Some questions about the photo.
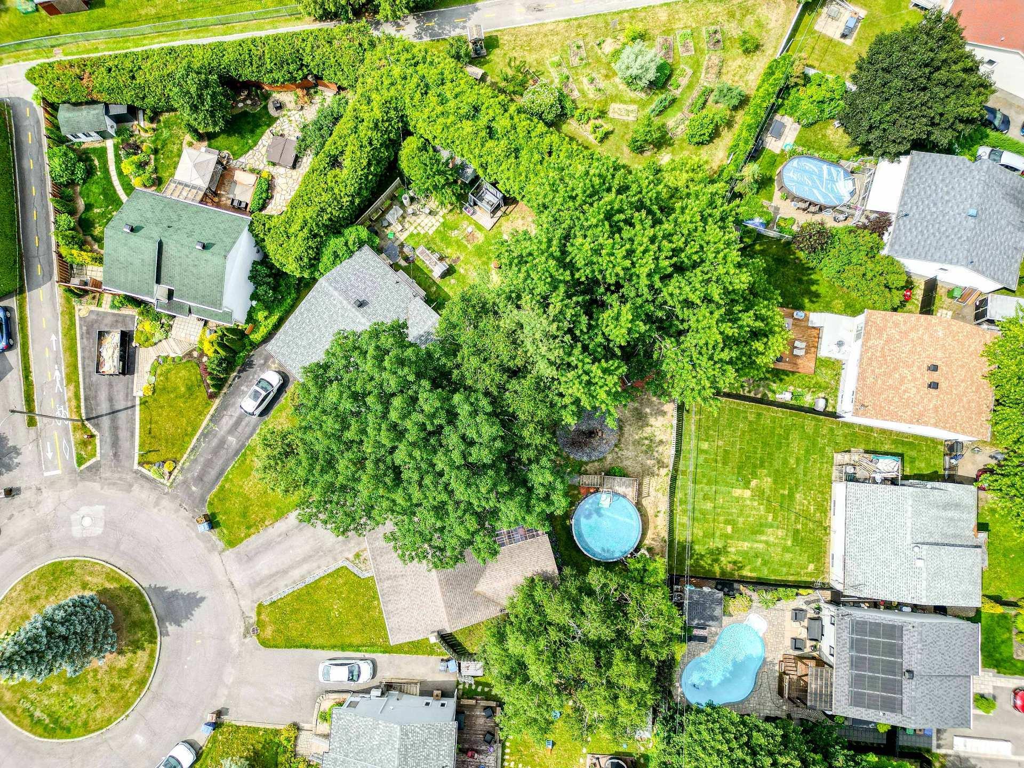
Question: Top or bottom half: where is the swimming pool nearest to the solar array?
bottom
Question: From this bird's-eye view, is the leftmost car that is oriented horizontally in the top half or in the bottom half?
bottom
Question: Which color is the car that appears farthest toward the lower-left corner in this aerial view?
white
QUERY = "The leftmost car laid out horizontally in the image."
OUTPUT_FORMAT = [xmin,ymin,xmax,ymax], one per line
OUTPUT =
[315,658,375,687]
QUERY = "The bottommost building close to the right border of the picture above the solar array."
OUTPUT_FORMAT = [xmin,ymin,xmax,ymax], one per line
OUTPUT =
[829,479,988,607]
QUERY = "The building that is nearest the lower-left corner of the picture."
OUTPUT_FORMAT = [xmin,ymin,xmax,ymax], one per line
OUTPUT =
[322,686,459,768]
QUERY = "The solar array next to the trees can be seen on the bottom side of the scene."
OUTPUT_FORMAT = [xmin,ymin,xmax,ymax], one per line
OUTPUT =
[849,613,906,716]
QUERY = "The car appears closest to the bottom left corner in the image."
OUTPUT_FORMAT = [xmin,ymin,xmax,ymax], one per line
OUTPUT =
[157,736,199,768]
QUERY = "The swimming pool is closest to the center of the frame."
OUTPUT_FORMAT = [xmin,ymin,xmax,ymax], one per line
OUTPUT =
[570,489,642,562]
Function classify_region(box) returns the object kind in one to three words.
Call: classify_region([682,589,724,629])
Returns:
shed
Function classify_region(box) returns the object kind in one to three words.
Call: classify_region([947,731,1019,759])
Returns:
trailer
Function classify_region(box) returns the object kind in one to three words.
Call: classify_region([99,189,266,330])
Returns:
house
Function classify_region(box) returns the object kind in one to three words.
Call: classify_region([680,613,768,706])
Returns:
swimming pool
